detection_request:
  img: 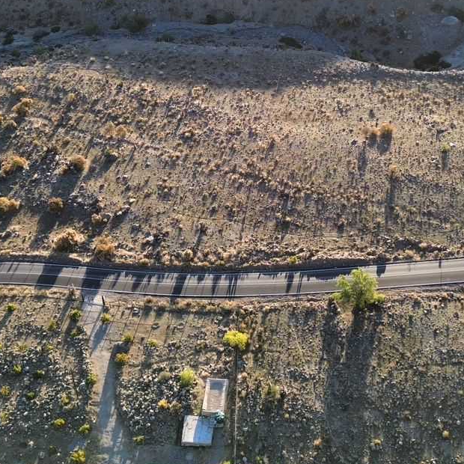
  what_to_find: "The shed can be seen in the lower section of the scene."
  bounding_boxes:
[181,414,215,453]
